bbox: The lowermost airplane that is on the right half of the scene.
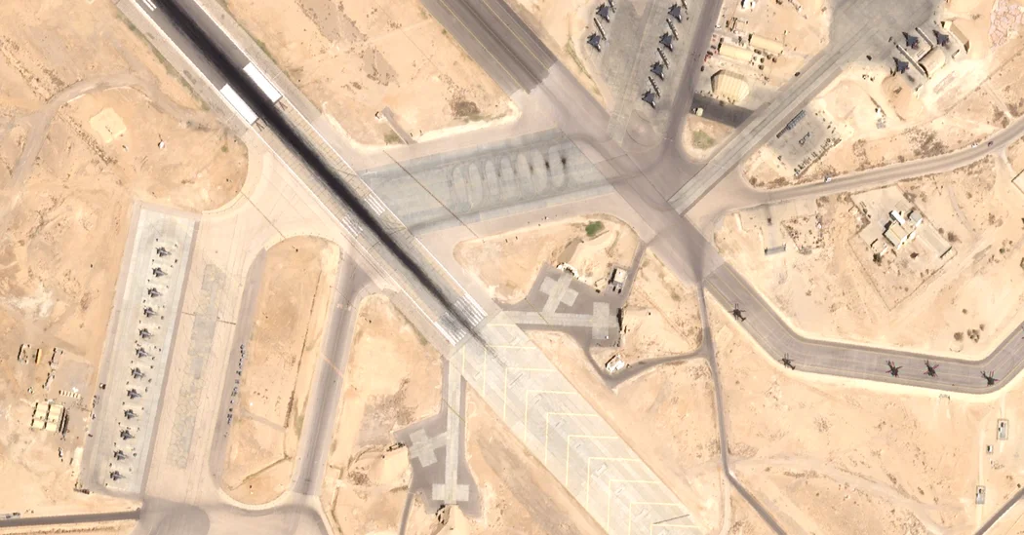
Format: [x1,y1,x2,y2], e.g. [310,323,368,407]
[641,88,654,107]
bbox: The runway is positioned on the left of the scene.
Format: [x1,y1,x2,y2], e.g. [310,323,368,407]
[134,0,501,360]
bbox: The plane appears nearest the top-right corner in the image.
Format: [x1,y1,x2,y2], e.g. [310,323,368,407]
[934,30,949,46]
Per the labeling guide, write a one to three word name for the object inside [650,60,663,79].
airplane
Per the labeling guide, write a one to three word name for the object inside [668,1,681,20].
airplane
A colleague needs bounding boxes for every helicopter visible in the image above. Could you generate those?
[888,361,902,377]
[779,357,795,369]
[924,360,937,376]
[983,371,999,387]
[729,307,746,319]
